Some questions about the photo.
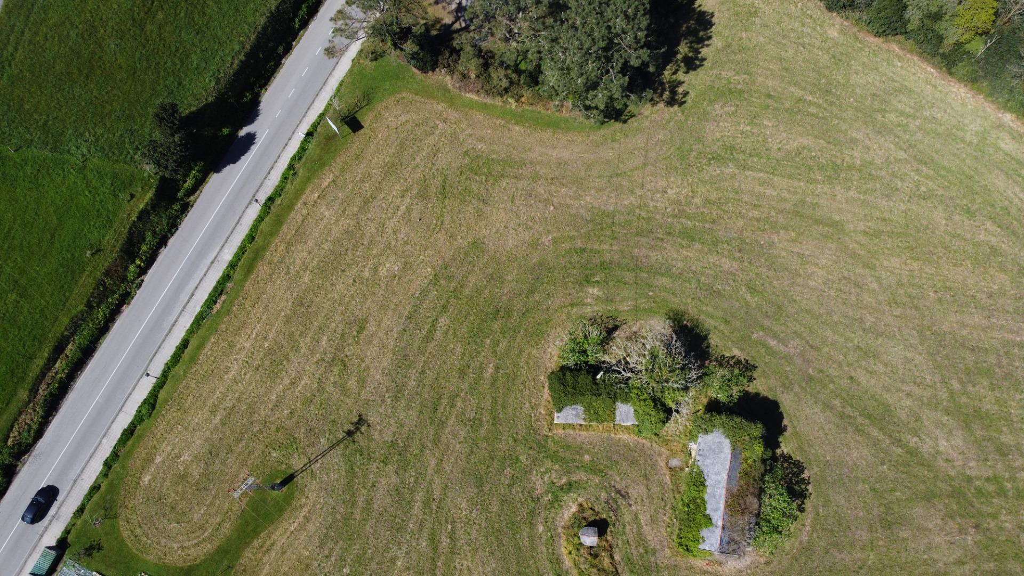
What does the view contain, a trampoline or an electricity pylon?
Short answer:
electricity pylon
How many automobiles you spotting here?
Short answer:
1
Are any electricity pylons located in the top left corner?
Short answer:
No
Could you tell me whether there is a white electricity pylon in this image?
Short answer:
No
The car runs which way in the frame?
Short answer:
diagonally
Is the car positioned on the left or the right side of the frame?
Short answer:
left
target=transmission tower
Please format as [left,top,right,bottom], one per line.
[227,470,282,505]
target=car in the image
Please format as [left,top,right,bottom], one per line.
[17,483,57,529]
